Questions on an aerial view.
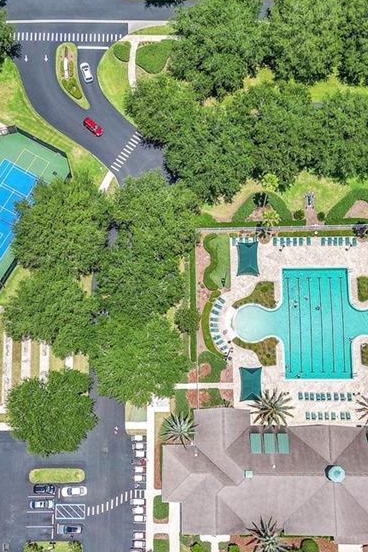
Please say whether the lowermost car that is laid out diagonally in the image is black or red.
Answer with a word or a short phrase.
red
